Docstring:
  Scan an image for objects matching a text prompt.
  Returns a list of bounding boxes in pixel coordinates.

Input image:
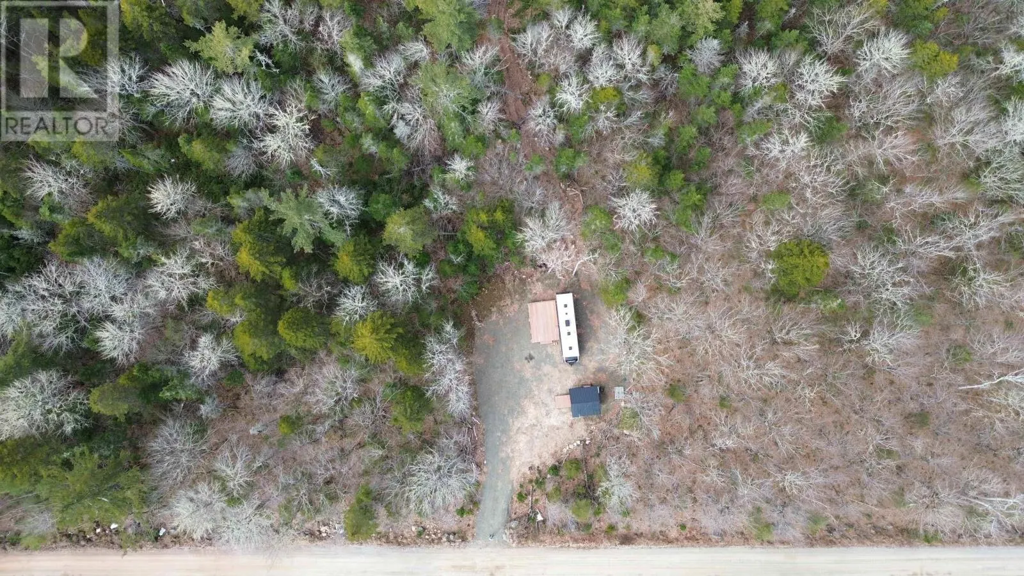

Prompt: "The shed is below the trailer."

[569,386,601,417]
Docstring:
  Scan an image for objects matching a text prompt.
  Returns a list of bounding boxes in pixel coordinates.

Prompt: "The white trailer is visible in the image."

[555,290,579,369]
